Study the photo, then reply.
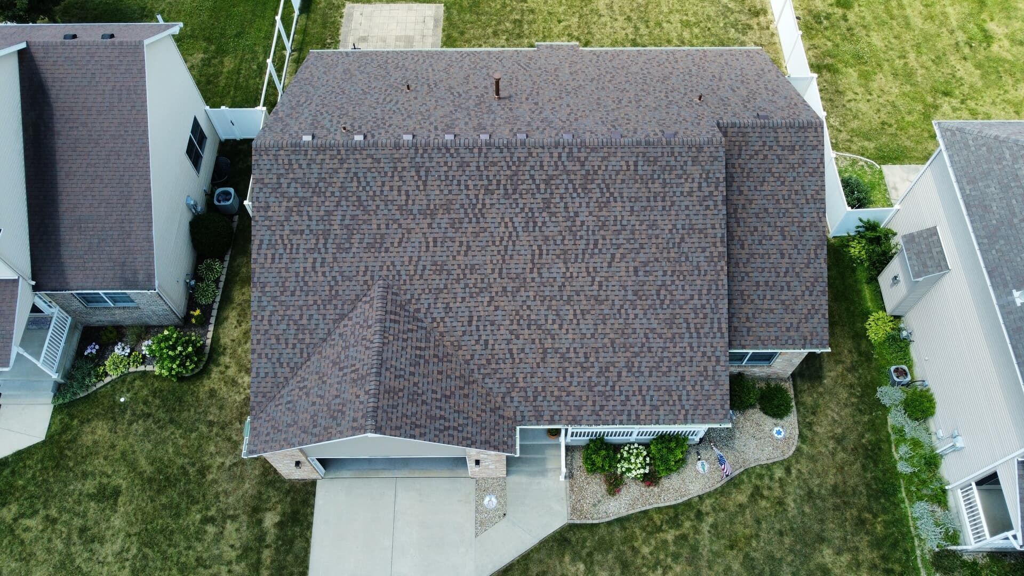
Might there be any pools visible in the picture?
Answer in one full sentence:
No, this view has no pool in it.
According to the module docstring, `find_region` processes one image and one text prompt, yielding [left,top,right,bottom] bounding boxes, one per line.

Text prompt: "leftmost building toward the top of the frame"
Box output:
[0,21,223,403]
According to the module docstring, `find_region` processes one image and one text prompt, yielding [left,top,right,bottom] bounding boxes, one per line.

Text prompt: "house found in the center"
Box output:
[238,42,831,479]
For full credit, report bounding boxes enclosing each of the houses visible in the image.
[238,42,831,479]
[877,117,1024,551]
[0,21,223,403]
